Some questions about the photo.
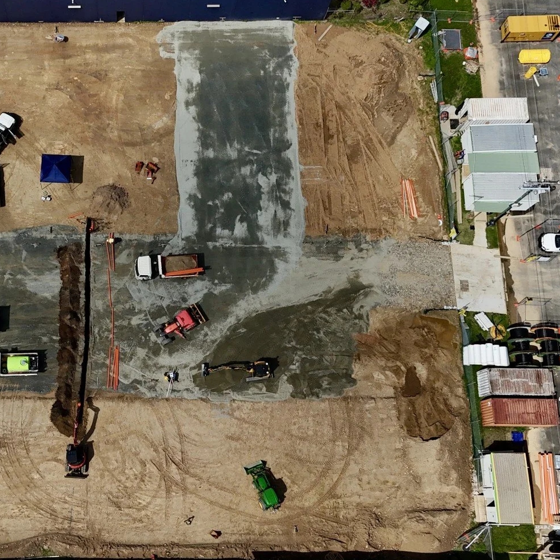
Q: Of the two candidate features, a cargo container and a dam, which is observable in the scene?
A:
cargo container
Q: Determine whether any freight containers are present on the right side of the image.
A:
Yes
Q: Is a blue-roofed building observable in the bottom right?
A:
No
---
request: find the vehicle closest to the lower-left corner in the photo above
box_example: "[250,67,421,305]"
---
[63,392,90,483]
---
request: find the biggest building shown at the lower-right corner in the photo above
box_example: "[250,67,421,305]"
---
[474,452,539,527]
